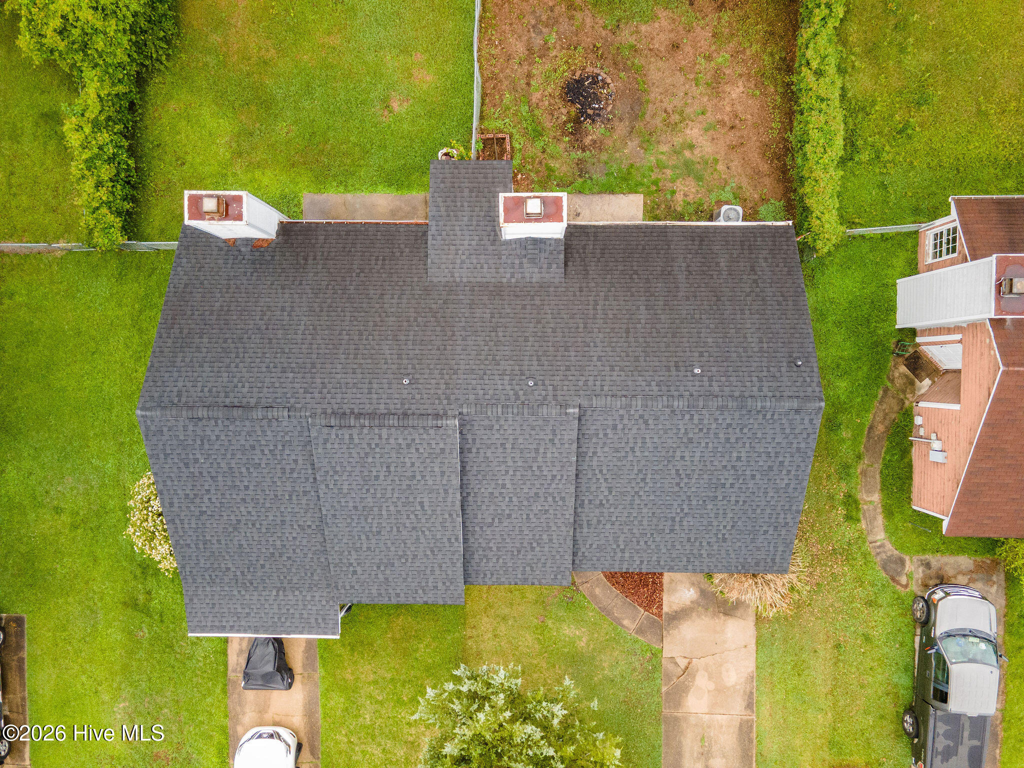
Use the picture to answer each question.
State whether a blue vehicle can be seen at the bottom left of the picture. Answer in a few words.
No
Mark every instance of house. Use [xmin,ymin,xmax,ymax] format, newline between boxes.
[896,194,1024,537]
[137,160,823,639]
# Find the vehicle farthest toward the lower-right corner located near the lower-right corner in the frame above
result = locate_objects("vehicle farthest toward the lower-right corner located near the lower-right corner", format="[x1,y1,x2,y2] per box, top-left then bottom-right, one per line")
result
[907,585,1014,768]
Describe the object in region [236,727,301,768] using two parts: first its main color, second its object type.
white car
